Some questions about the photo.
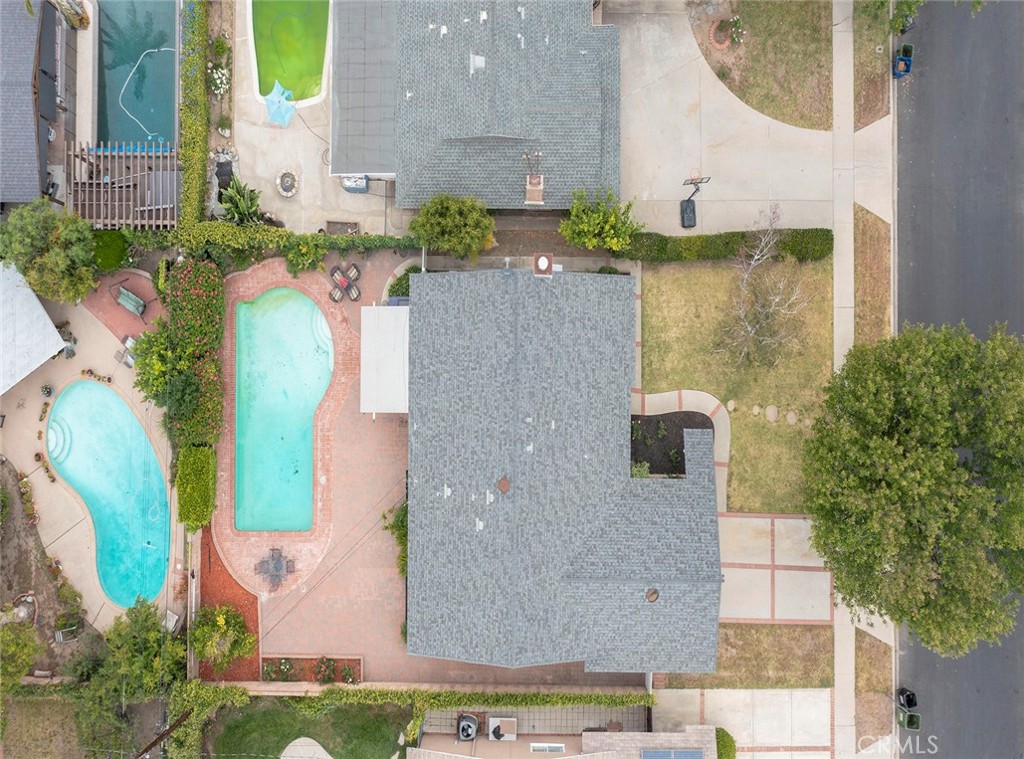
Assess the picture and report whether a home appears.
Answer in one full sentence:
Yes, the frame does contain a home.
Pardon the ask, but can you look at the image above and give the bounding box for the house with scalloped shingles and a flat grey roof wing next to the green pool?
[329,0,620,214]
